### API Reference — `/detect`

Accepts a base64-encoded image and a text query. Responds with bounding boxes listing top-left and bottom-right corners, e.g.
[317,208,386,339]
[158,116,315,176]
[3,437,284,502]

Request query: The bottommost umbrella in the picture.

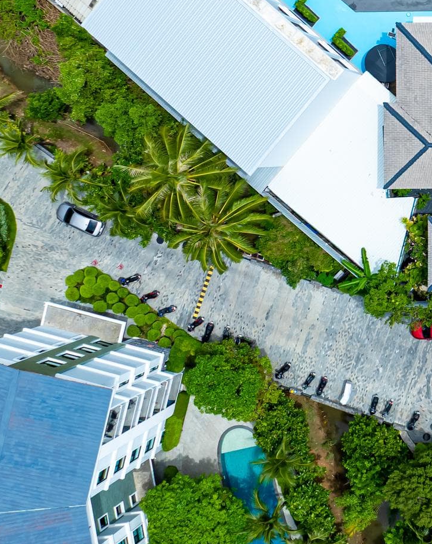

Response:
[366,48,395,80]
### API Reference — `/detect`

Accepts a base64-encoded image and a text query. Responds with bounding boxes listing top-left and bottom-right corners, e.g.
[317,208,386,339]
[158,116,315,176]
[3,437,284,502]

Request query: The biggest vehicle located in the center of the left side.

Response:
[56,203,106,236]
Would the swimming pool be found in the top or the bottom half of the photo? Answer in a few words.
bottom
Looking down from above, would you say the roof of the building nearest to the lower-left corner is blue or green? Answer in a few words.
blue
